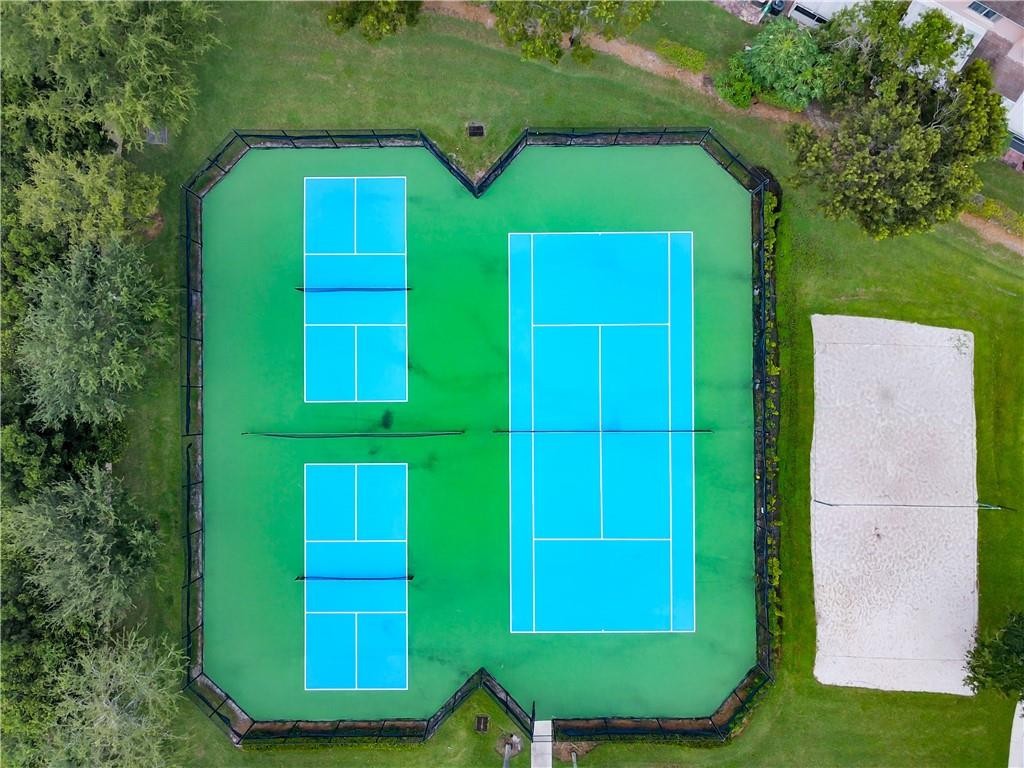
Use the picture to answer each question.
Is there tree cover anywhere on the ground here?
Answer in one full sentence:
Yes, some tree cover is visible.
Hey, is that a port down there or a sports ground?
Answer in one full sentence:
The area seen from above is a sports ground.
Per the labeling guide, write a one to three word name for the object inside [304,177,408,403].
sports court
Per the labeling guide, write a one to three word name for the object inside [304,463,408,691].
sports court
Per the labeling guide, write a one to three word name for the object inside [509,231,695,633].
tennis court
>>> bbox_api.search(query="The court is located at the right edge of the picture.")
[810,314,979,695]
